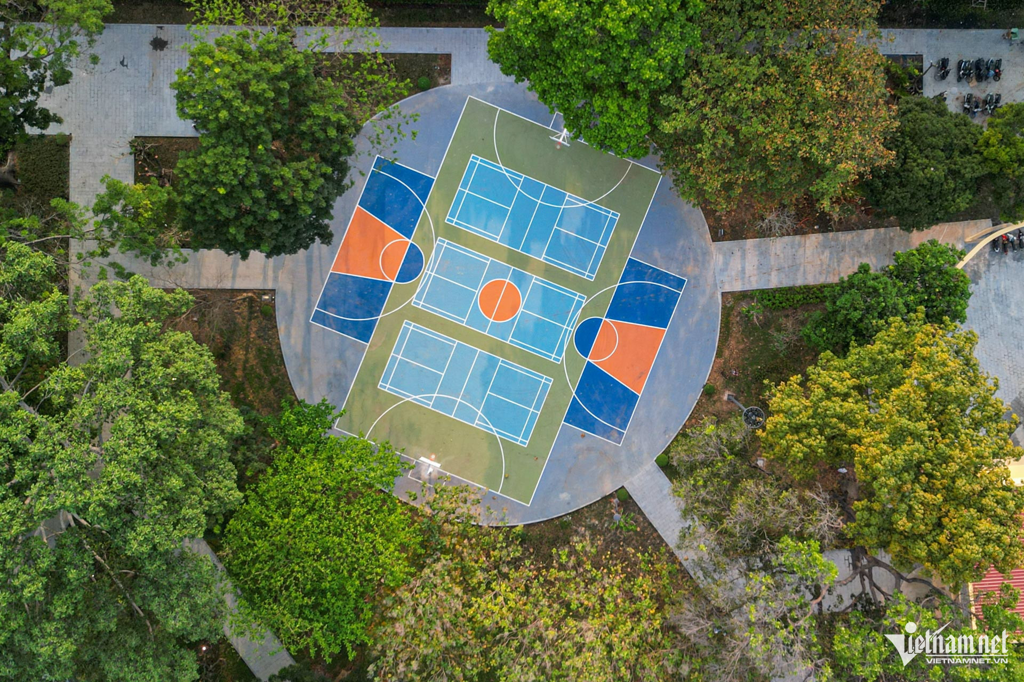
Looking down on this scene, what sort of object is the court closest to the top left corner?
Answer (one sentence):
The court closest to the top left corner is a basketball court.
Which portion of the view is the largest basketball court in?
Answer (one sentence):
The largest basketball court is in the center part of the image.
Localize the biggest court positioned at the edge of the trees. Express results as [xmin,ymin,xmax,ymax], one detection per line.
[335,94,662,507]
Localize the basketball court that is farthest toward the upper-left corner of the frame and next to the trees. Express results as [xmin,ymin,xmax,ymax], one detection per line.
[309,153,435,345]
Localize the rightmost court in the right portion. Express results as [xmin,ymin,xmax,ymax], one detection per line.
[562,256,688,448]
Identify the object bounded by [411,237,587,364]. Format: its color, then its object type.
blue sports court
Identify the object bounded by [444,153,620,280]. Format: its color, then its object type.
blue sports court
